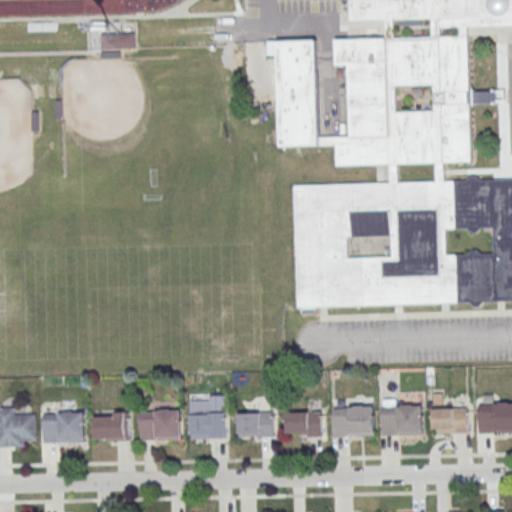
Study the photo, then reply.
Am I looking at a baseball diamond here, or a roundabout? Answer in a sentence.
There is a baseball diamond in the scene.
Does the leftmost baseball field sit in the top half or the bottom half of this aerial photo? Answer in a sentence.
You can find the leftmost baseball field in the top half.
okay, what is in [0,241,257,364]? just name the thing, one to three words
sports field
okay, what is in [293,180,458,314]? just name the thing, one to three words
building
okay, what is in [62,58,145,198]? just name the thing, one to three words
baseball field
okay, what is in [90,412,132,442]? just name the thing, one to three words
house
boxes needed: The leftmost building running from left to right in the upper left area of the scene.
[101,32,134,49]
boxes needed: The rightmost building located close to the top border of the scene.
[266,0,512,181]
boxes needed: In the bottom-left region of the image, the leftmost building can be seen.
[0,407,36,448]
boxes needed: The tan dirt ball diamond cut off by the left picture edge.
[0,78,34,192]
